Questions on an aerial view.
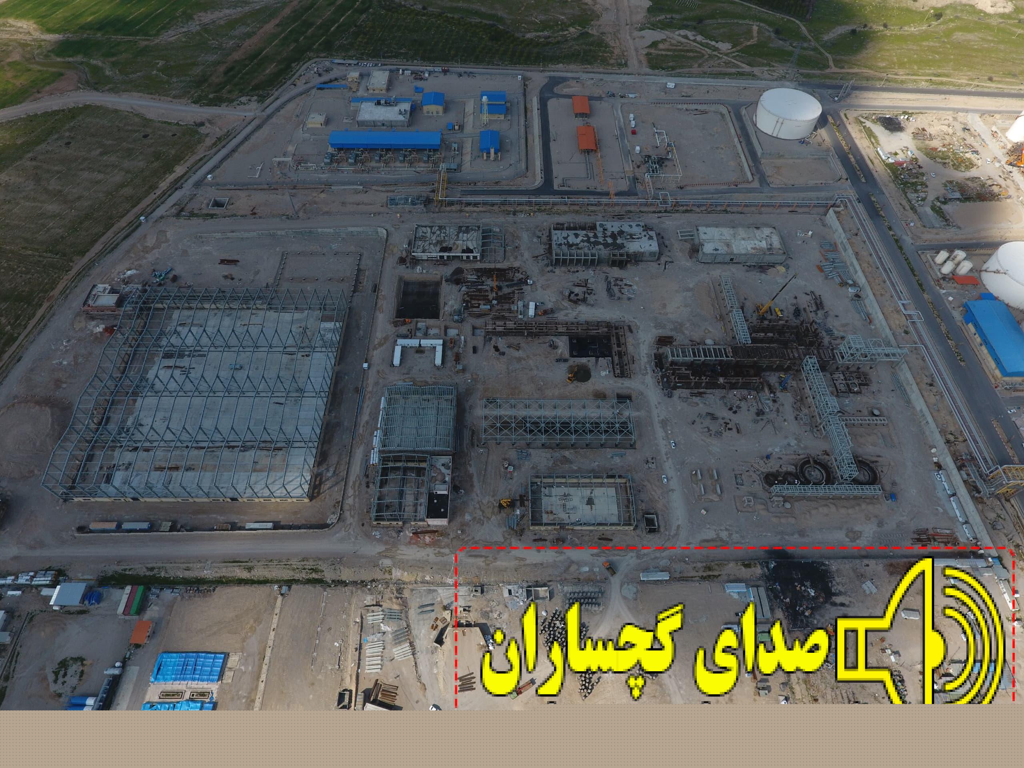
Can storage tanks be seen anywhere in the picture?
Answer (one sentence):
Yes, a storage tank appears in the view.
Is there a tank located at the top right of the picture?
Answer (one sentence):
Yes, at the top right of the picture there is a tank.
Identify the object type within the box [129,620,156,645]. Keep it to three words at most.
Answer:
building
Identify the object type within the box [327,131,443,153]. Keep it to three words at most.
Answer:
shed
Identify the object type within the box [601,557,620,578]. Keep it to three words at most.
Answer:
vehicle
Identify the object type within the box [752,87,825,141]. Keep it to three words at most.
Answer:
storage tank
